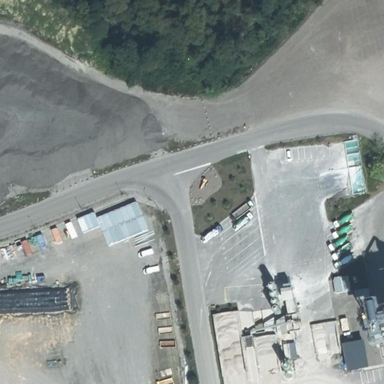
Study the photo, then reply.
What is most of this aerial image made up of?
paved ground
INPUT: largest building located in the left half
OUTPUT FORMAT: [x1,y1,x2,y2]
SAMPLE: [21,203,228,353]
[96,202,148,246]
